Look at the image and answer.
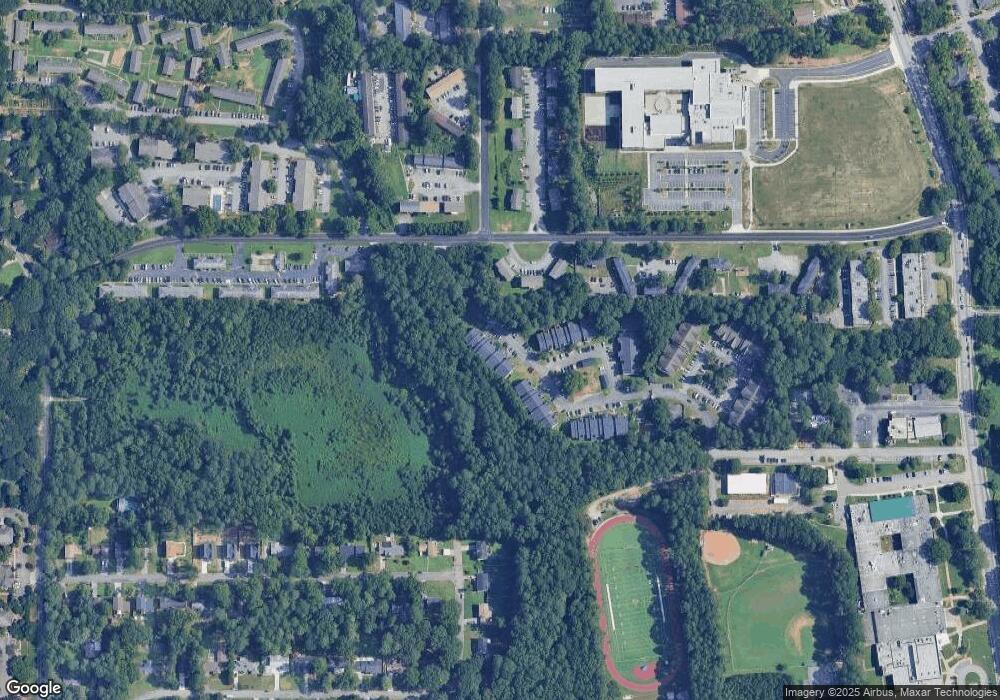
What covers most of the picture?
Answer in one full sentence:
Most of the picture is covered by trees.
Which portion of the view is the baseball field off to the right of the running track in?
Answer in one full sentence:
You can find the baseball field off to the right of the running track in the bottom right area of the picture.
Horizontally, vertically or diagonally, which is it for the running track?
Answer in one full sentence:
The running track has been laid out vertically relative to the frame.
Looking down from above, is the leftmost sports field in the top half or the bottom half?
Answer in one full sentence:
Seen from above, the leftmost sports field lies in the bottom half of the view.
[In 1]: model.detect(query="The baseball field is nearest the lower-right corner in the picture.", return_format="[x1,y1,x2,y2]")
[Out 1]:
[702,531,811,671]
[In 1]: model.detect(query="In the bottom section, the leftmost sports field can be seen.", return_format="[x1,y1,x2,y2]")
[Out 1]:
[594,515,682,691]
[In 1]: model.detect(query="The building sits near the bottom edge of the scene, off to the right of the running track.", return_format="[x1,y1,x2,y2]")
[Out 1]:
[851,494,951,700]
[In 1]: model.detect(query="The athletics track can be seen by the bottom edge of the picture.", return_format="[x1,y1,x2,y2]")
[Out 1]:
[594,515,682,691]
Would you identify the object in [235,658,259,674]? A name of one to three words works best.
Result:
house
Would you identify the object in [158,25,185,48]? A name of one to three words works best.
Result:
building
